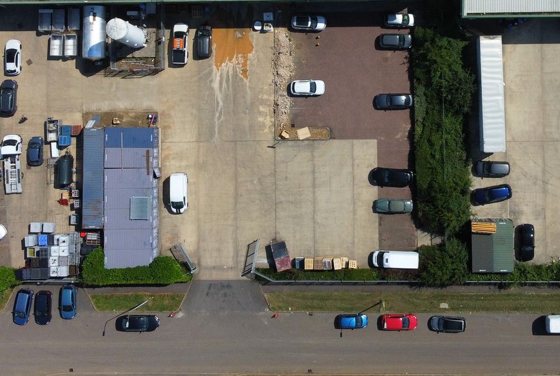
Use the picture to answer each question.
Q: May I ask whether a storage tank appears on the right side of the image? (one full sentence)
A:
No, no storage tank appears on the right side of the image.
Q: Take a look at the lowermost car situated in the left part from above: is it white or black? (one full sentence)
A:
The lowermost car situated in the left part looks black in the image.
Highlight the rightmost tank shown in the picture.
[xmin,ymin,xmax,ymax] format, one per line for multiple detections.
[108,19,154,51]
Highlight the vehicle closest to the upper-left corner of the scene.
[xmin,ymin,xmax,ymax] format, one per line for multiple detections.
[3,40,23,76]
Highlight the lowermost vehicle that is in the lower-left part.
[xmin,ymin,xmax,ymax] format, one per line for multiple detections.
[117,314,160,334]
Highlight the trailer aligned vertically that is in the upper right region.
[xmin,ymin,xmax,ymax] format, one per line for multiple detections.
[476,36,505,152]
